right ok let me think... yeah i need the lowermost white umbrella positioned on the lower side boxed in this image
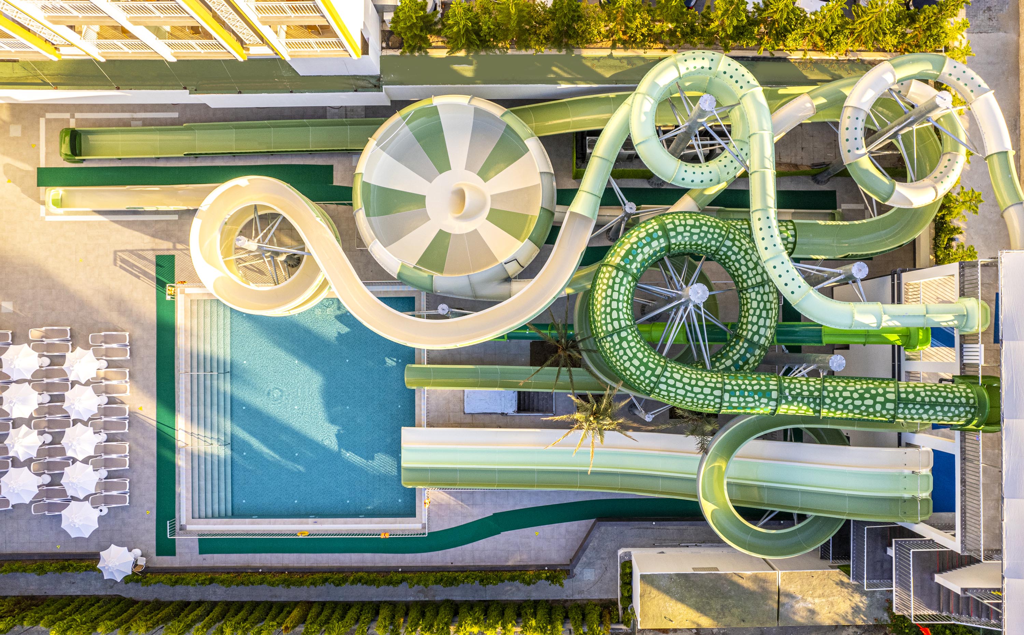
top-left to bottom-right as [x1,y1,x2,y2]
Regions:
[99,545,146,582]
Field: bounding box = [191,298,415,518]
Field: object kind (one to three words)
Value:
swimming pool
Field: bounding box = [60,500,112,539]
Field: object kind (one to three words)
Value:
umbrella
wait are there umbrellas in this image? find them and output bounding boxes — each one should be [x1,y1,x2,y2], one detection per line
[61,383,112,422]
[61,461,111,499]
[4,424,58,462]
[1,344,55,381]
[2,381,56,418]
[99,545,146,582]
[0,465,55,505]
[61,423,111,460]
[61,346,112,386]
[60,500,112,539]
